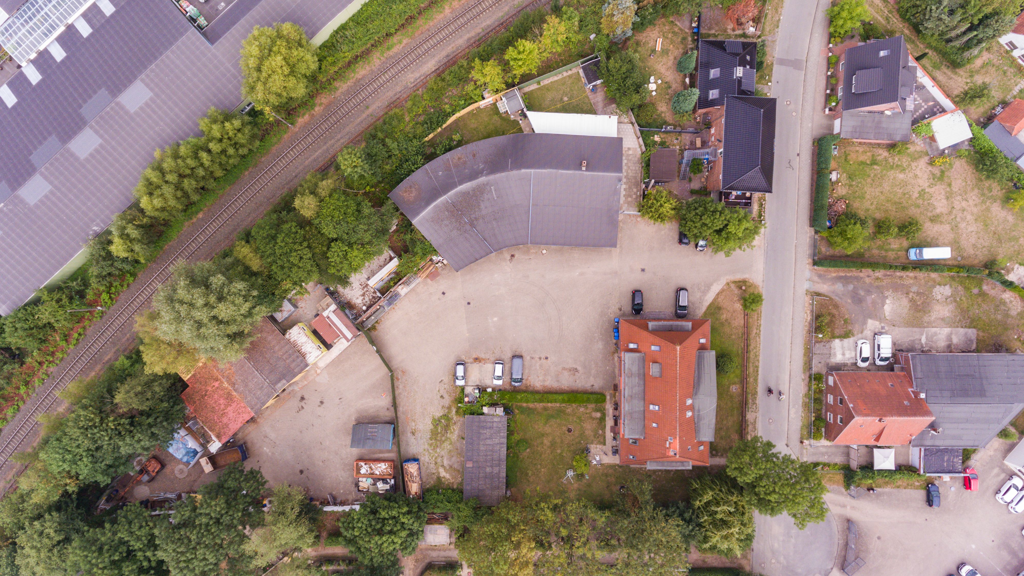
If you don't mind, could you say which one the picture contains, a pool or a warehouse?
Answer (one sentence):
There is a warehouse in the scene.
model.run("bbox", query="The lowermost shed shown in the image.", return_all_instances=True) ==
[422,521,450,544]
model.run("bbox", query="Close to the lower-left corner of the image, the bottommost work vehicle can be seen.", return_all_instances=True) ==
[116,457,162,501]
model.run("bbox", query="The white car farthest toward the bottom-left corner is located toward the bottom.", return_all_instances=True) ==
[454,361,466,385]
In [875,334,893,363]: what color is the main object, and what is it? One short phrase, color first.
white vehicle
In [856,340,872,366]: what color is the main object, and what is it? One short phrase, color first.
white car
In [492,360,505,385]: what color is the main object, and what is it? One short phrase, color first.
white vehicle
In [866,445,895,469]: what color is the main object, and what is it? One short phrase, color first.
white gazebo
